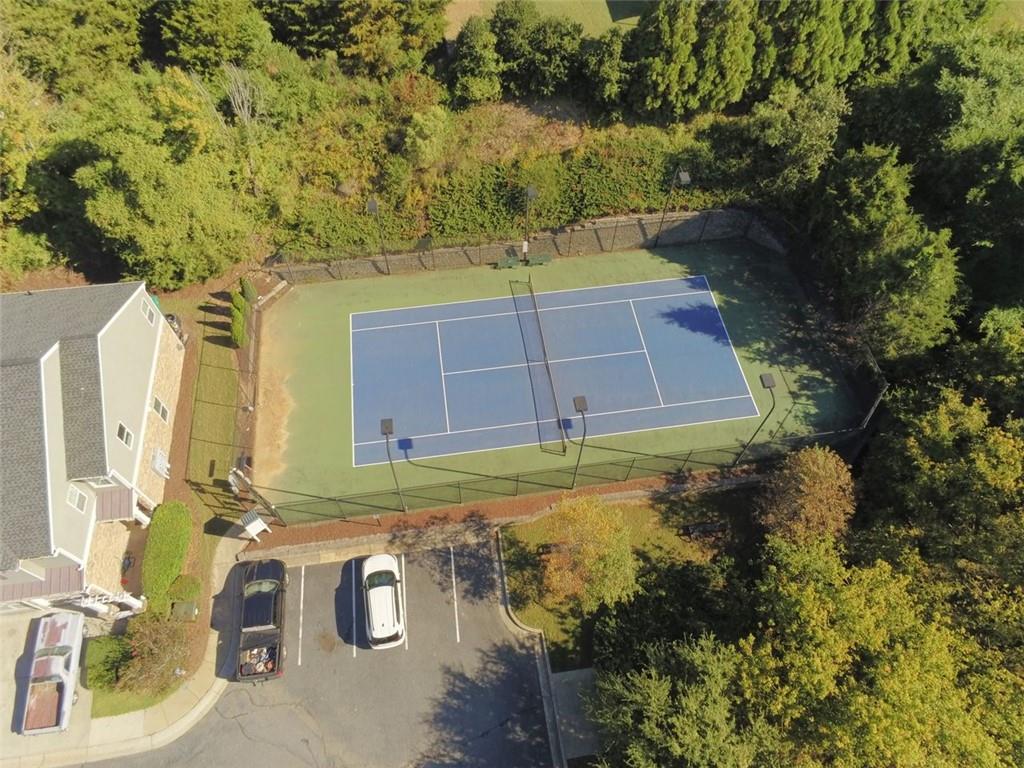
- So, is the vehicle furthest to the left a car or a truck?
truck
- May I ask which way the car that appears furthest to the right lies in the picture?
vertically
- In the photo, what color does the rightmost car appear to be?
white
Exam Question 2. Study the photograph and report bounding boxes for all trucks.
[235,557,288,681]
[19,609,92,738]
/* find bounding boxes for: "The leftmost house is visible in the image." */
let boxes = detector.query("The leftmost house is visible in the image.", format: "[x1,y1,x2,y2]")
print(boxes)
[0,284,185,626]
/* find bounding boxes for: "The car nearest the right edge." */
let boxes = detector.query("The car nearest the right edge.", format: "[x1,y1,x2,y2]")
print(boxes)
[359,552,407,648]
